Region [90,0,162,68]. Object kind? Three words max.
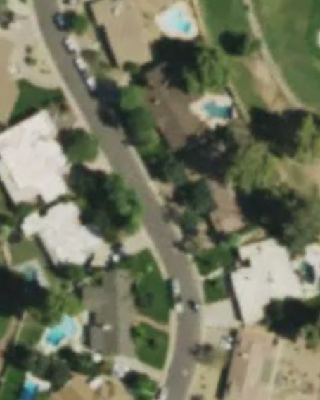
house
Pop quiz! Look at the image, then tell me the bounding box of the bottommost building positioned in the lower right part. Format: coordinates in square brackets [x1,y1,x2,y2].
[220,324,278,400]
